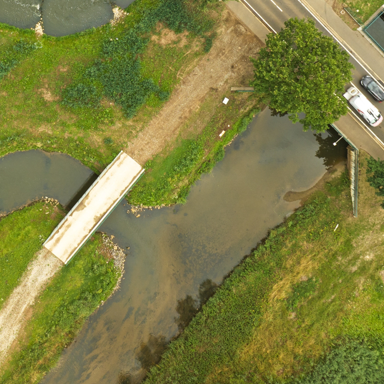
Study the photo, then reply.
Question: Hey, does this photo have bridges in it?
Yes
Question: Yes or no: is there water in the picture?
Yes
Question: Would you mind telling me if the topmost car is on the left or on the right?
right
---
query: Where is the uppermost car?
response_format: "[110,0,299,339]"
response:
[358,76,384,104]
